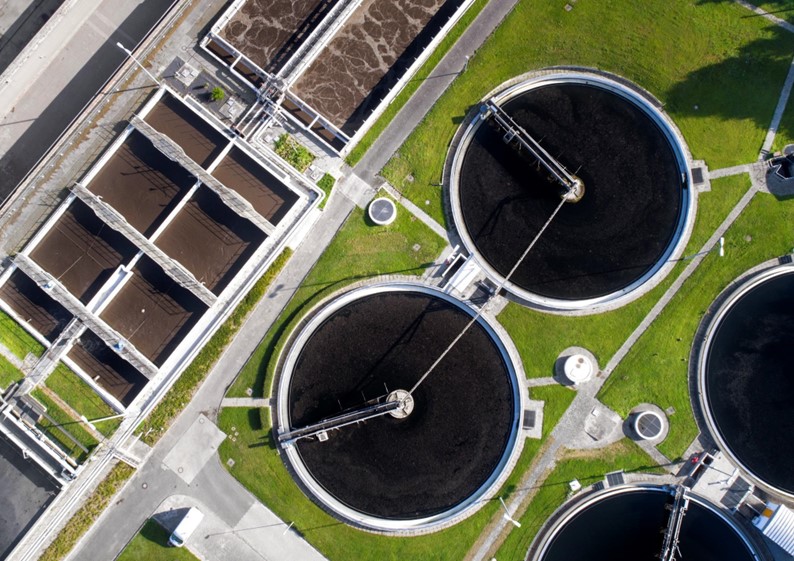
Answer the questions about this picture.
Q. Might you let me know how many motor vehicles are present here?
1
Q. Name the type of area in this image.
industrial area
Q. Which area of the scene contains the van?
bottom left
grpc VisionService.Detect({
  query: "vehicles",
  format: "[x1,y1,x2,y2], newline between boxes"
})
[169,504,206,549]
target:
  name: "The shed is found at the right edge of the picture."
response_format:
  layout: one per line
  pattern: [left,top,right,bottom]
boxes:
[756,502,794,553]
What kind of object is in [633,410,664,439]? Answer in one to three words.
storage tank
